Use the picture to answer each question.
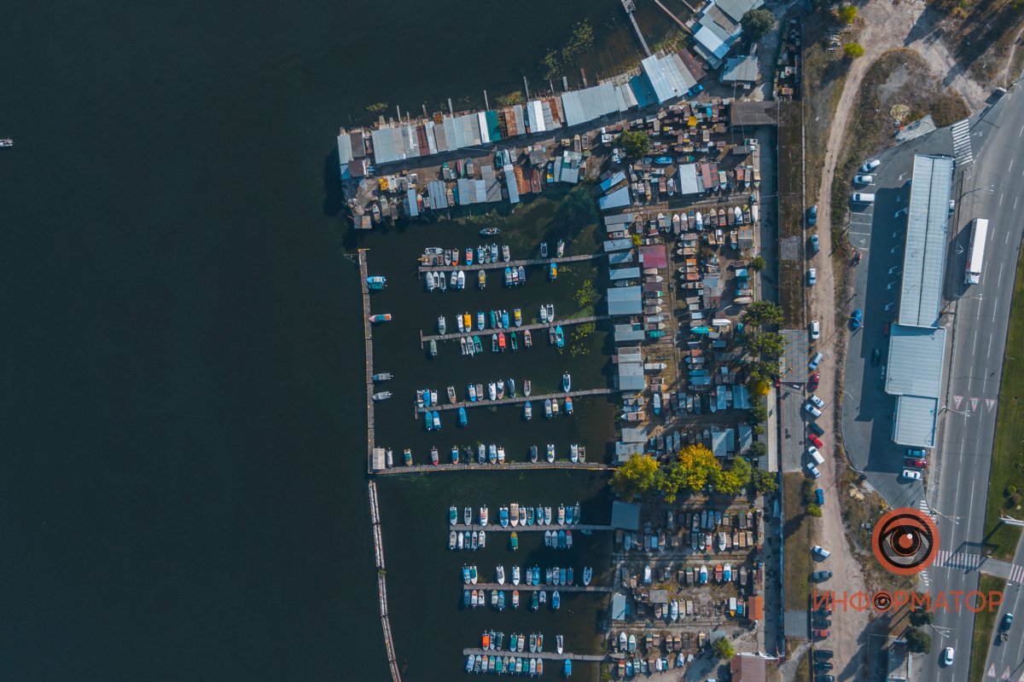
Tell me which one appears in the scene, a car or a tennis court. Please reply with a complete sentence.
Looking from above, you can make out a car.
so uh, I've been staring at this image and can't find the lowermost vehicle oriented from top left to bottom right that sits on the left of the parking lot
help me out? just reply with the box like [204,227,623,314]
[814,544,830,559]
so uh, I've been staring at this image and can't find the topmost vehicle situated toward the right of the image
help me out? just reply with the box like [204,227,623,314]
[688,83,703,96]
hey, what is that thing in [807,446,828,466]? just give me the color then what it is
white vehicle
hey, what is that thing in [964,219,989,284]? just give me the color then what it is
white truck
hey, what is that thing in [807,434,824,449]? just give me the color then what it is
red car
